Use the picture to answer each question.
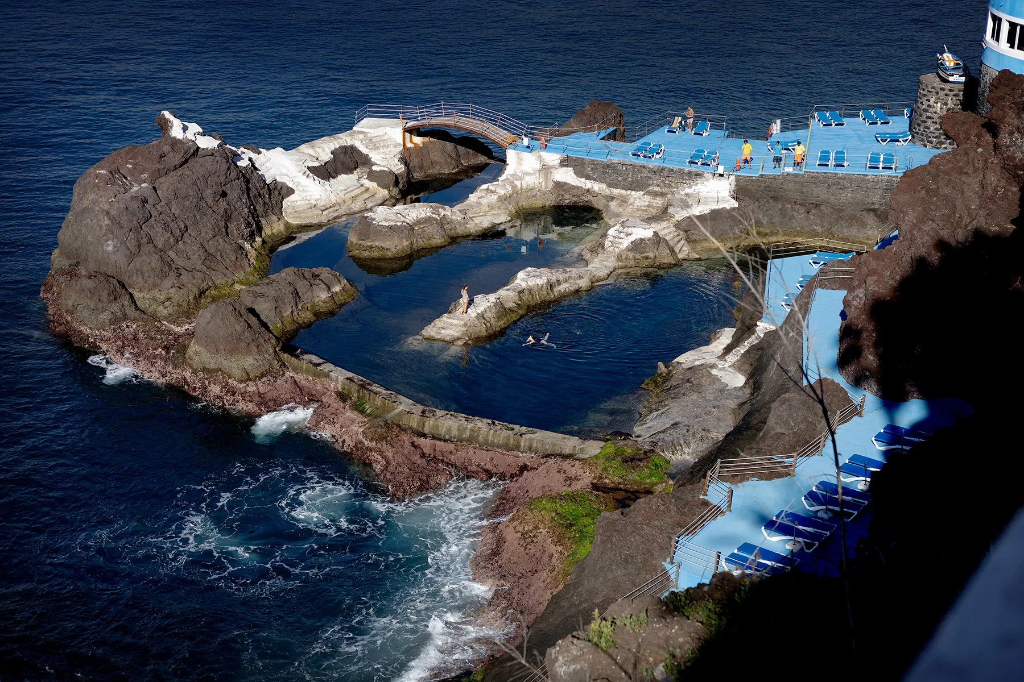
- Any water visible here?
Yes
